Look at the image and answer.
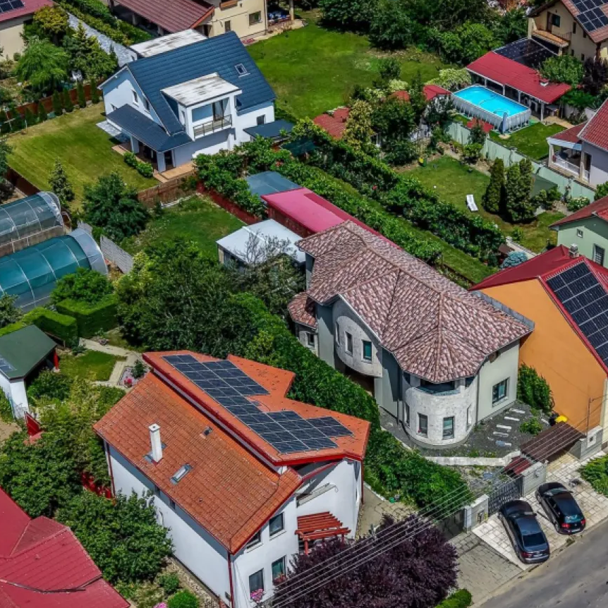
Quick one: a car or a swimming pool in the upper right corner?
swimming pool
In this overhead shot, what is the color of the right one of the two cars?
black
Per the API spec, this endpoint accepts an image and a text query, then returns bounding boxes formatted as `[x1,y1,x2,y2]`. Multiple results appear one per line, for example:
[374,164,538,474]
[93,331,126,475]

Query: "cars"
[492,504,547,563]
[535,483,585,534]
